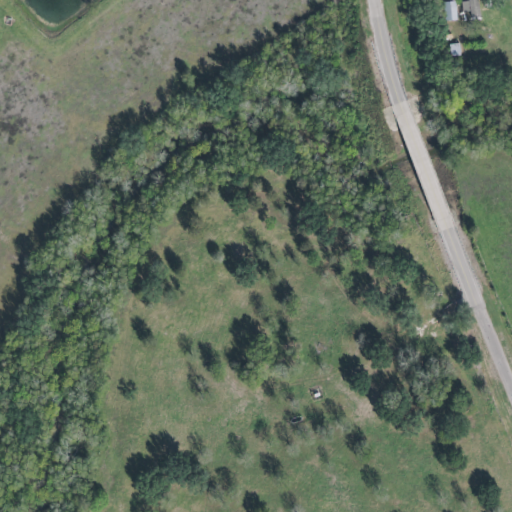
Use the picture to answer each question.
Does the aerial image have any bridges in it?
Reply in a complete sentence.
Yes, the frame does contain a bridge.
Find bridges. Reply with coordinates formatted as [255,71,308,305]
[391,99,455,231]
